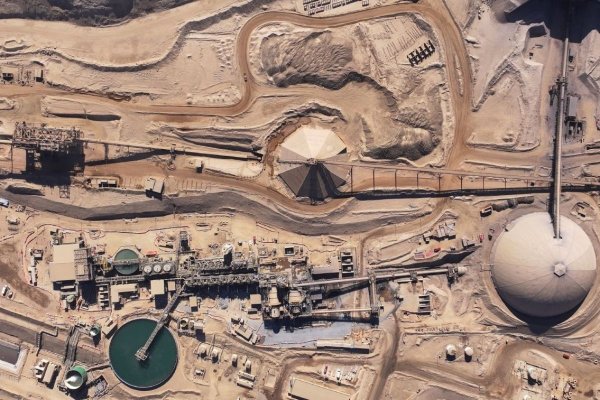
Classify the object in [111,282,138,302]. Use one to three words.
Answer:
building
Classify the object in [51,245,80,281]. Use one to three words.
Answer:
building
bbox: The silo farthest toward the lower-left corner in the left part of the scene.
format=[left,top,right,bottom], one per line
[65,365,88,388]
